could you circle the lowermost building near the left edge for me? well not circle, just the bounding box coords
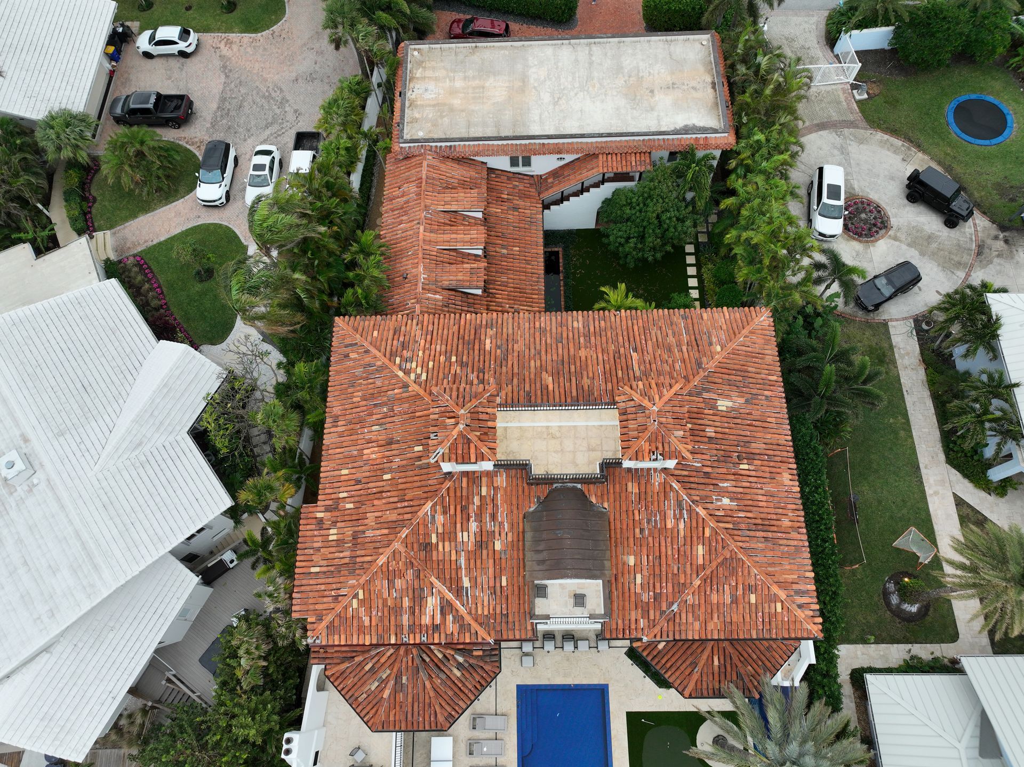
[0,235,244,764]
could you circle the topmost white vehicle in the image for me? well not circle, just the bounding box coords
[135,28,203,64]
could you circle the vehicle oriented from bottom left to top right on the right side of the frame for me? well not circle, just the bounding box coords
[851,254,932,318]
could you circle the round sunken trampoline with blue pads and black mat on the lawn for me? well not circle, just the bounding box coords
[944,91,1017,147]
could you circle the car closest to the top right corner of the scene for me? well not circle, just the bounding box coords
[901,165,977,230]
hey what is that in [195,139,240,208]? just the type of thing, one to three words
car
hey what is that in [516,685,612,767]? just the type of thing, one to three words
swimming pool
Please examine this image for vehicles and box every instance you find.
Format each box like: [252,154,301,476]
[110,91,194,129]
[851,254,932,318]
[808,159,851,243]
[135,28,203,64]
[281,132,324,198]
[448,14,513,39]
[901,165,977,230]
[195,139,240,208]
[244,146,286,212]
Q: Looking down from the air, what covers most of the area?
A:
buildings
